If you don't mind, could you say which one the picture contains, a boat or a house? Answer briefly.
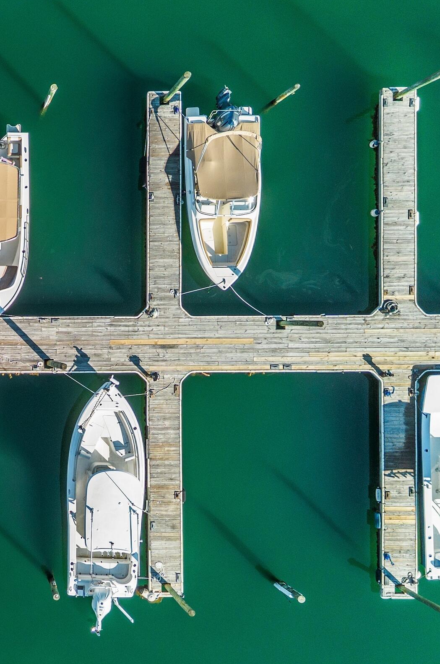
boat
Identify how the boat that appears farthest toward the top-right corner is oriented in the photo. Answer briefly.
up and down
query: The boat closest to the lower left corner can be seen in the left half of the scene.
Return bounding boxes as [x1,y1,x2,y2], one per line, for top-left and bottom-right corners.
[65,375,151,640]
